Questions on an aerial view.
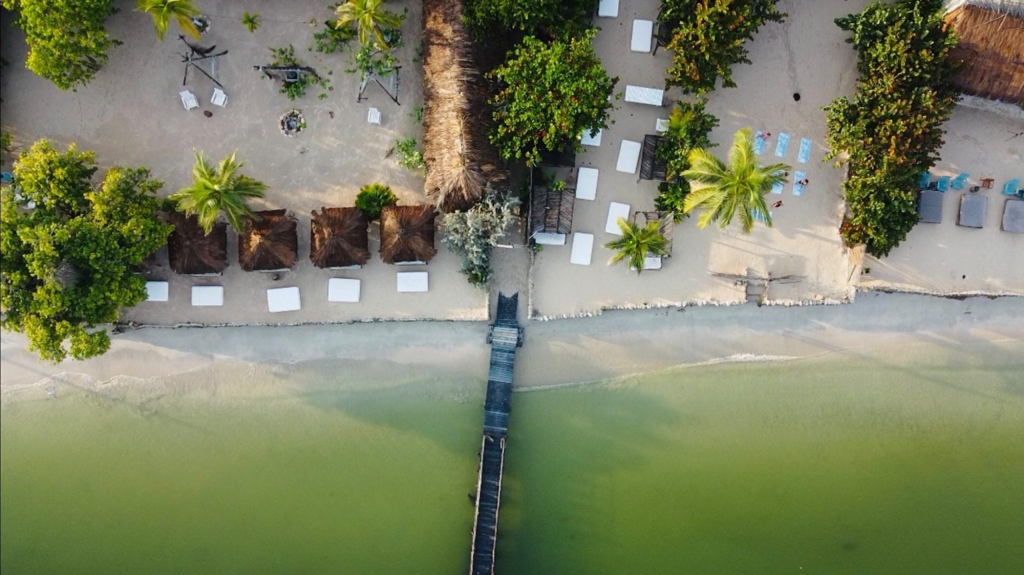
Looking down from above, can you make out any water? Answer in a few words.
Yes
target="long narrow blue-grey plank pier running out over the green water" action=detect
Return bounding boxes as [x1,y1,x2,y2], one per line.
[467,293,524,575]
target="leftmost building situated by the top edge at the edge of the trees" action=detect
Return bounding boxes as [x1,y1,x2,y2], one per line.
[419,0,505,216]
